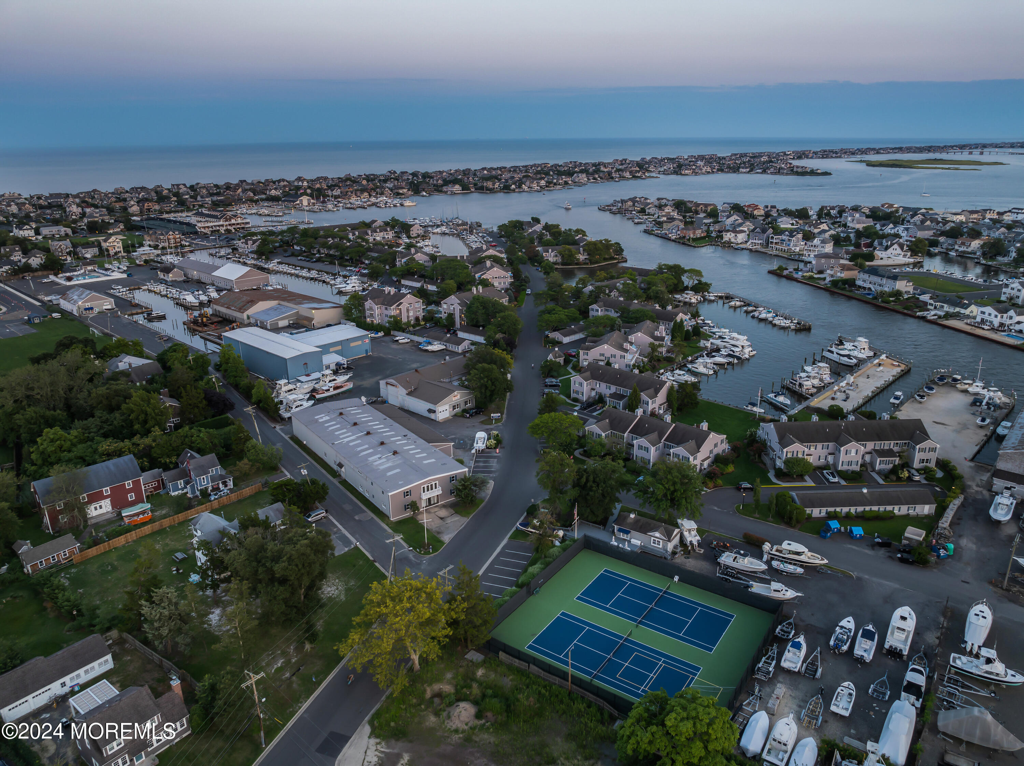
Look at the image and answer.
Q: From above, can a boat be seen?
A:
Yes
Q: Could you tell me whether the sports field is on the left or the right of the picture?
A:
left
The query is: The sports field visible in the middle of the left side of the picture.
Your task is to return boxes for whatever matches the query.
[0,314,102,370]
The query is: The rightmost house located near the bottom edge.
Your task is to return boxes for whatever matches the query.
[76,670,195,766]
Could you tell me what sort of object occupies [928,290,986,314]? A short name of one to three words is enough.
house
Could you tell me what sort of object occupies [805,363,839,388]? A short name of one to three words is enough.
boat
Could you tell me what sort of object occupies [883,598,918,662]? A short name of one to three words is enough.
boat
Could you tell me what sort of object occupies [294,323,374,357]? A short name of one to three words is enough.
shed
